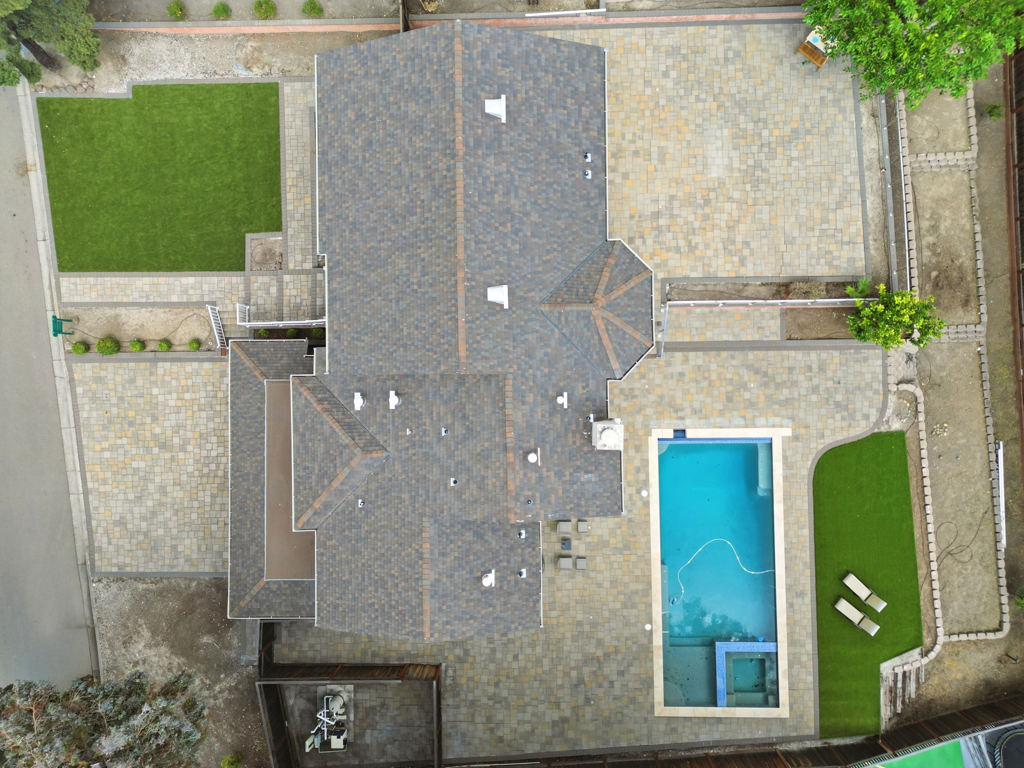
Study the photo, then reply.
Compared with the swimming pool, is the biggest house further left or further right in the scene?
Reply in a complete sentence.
In the image, the biggest house sits on the left side of the swimming pool.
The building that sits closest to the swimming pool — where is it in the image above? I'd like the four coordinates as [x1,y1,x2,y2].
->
[226,17,657,642]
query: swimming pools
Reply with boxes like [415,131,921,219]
[648,428,792,718]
